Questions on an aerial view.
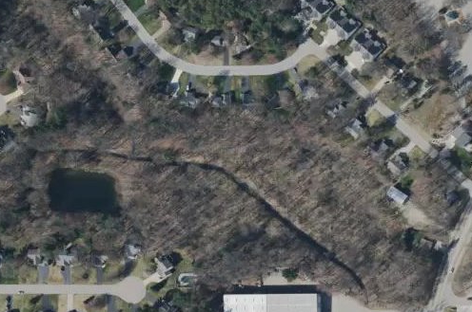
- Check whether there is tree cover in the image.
Yes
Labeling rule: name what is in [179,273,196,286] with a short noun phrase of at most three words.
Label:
swimming pool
